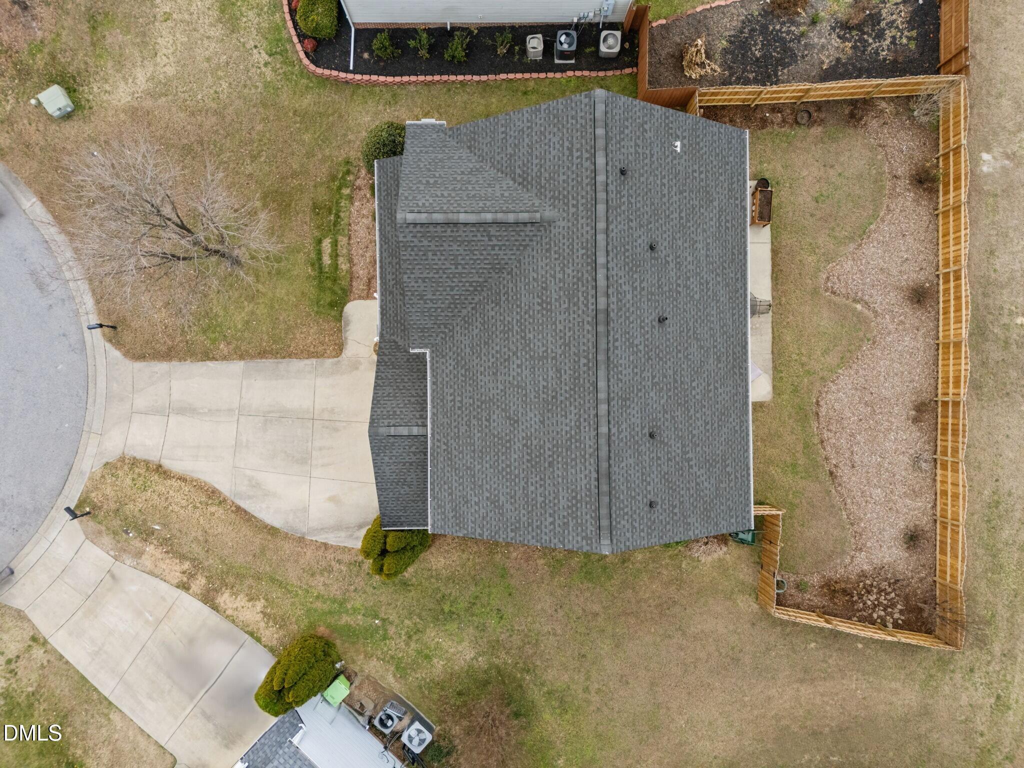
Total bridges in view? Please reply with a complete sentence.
I count no bridges.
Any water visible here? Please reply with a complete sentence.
No, water can't be seen anywhere here.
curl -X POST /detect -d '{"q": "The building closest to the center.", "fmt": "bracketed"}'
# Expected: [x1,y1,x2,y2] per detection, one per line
[368,90,754,555]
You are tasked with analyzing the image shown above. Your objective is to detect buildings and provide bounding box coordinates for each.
[368,90,754,555]
[339,0,634,68]
[227,692,408,768]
